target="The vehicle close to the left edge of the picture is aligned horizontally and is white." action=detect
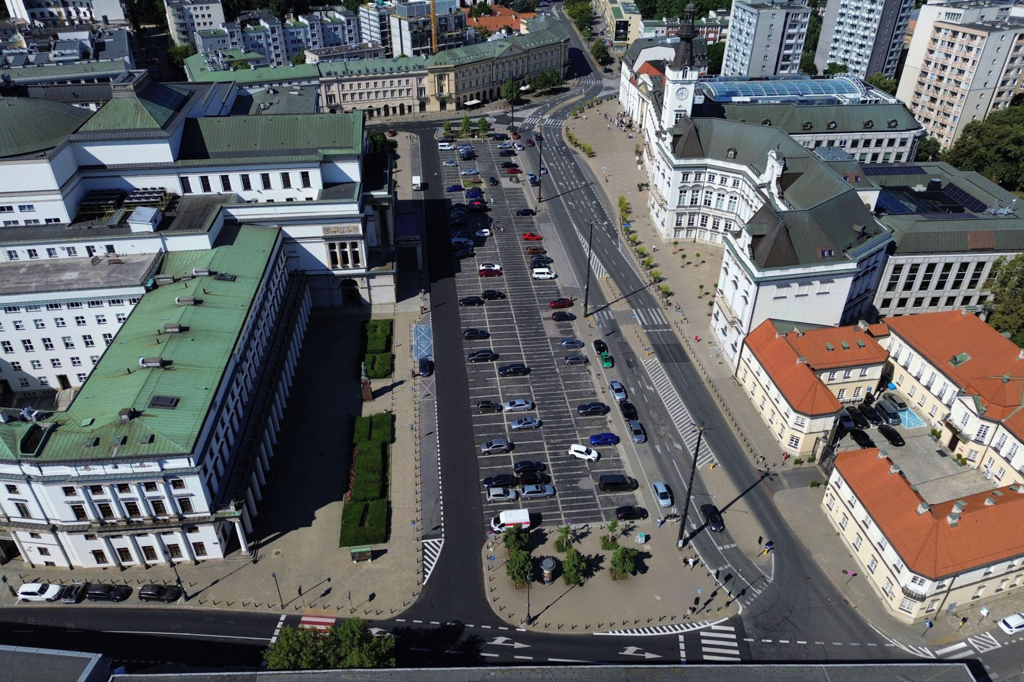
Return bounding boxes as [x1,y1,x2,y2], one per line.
[13,581,60,604]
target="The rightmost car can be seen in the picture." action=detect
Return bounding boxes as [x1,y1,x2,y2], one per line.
[997,610,1024,636]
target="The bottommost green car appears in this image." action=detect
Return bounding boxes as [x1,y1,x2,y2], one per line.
[601,350,614,365]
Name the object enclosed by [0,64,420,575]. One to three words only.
building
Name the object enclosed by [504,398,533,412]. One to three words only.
car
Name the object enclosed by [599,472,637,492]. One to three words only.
vehicle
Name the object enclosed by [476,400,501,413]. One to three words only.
vehicle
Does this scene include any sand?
No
